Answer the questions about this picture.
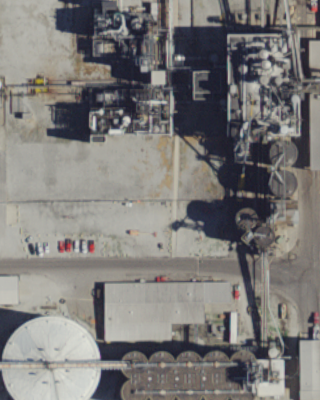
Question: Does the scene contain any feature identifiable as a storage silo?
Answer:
Yes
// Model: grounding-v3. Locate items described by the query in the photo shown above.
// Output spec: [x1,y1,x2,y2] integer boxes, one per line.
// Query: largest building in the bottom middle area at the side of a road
[103,282,230,340]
